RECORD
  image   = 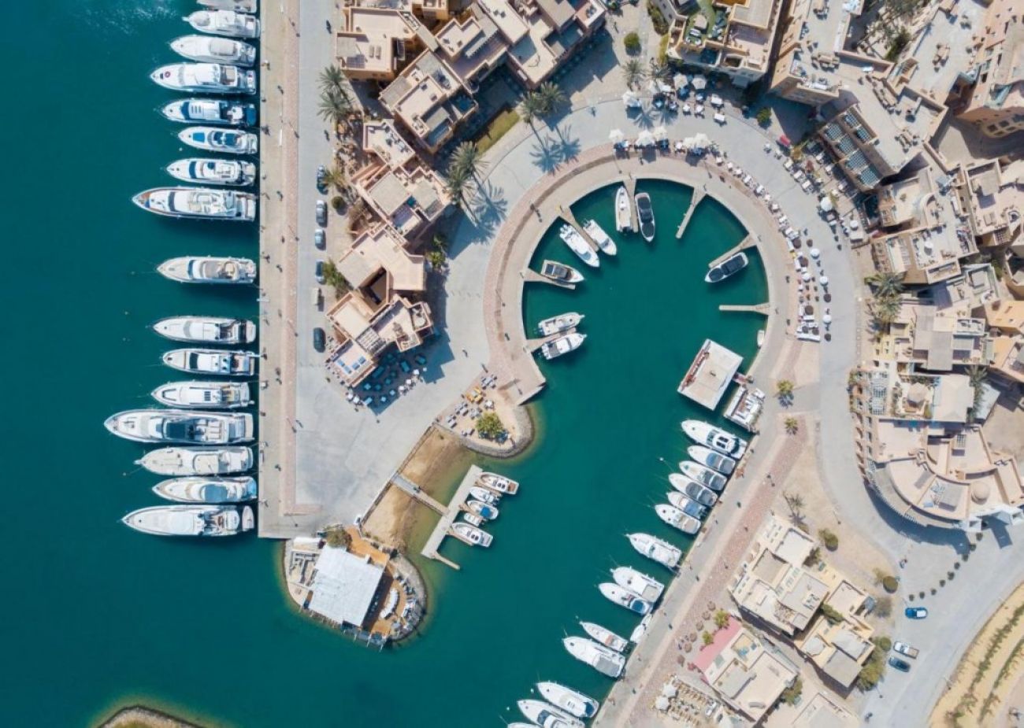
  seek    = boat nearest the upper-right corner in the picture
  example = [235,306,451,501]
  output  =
[705,253,750,281]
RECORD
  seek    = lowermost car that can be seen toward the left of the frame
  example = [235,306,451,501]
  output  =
[312,327,325,352]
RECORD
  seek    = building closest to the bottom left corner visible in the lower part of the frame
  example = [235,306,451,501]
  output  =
[294,537,387,626]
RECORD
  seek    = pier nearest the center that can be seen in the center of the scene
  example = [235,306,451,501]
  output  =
[528,327,576,351]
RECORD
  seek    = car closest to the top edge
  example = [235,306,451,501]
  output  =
[315,166,327,194]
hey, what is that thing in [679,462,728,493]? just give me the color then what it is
white boat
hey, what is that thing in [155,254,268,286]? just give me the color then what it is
white boat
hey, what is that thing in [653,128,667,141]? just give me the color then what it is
white umbrella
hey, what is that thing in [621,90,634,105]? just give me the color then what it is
white umbrella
